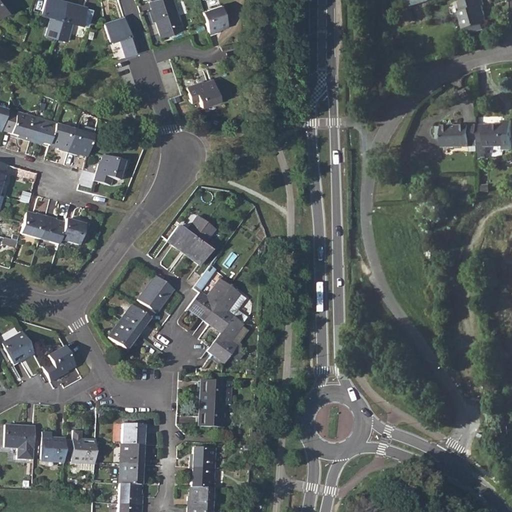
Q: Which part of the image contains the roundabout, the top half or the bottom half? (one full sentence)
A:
The roundabout is in the bottom half of the image.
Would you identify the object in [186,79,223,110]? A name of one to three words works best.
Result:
house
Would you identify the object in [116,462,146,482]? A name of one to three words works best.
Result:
house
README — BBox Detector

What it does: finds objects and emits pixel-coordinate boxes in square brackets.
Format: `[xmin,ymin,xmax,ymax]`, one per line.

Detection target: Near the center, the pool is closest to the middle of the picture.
[222,250,238,276]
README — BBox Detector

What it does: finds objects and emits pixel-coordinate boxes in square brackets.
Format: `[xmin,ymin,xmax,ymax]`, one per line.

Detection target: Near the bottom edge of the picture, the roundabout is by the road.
[301,375,424,512]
